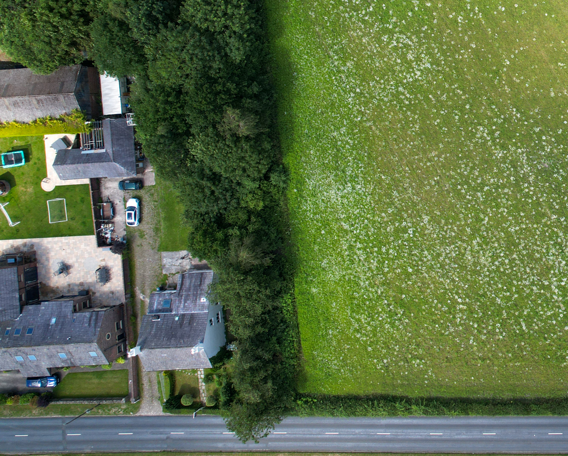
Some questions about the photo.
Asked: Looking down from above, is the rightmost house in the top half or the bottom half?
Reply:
bottom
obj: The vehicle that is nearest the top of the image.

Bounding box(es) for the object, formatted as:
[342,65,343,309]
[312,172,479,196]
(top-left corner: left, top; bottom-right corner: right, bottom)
[119,179,144,191]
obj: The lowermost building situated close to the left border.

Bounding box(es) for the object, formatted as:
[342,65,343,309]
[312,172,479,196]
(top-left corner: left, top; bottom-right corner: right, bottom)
[0,263,124,378]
